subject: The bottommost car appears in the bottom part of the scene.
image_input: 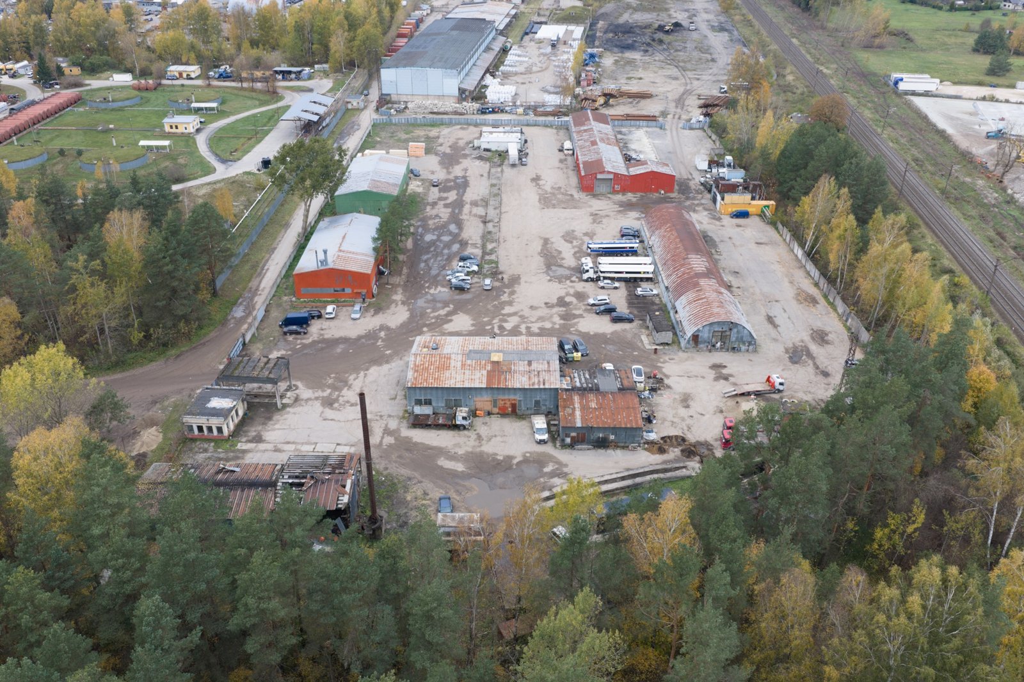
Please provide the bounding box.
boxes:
[437,492,452,509]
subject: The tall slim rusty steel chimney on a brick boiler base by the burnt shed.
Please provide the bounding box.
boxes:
[352,391,393,547]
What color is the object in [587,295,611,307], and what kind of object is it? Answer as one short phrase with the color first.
white vehicle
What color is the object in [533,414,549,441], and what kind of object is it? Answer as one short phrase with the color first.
white vehicle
